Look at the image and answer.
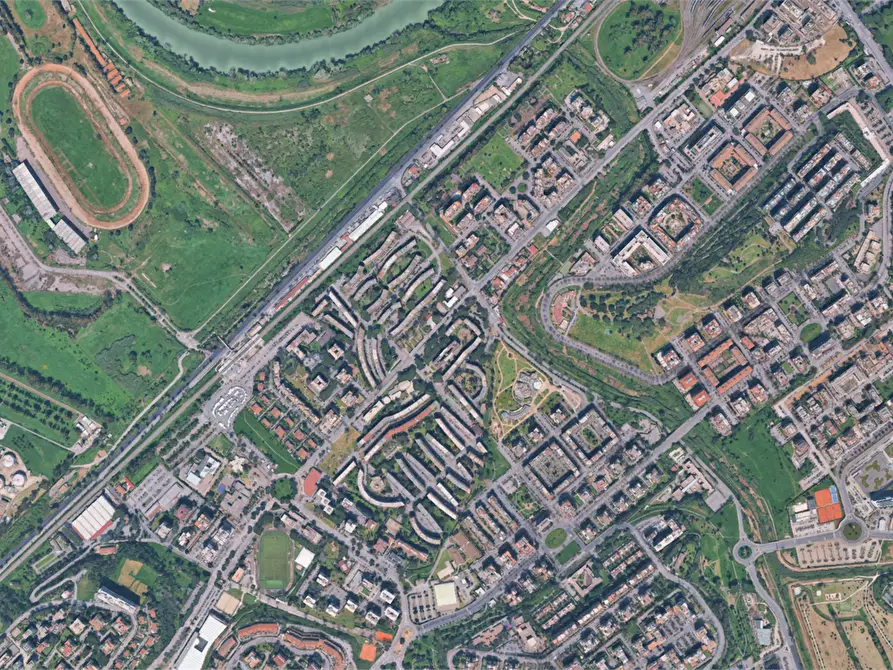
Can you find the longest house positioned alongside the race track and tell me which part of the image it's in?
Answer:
top left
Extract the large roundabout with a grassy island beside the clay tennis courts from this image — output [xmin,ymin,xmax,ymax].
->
[836,516,868,547]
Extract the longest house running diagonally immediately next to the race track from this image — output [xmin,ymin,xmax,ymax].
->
[72,18,106,66]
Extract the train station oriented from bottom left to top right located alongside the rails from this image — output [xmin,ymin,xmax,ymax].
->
[215,334,262,380]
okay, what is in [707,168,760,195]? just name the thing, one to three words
house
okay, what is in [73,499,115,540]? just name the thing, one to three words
shed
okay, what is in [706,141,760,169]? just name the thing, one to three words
house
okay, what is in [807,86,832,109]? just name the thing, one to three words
building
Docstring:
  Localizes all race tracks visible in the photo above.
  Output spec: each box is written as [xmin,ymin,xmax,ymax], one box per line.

[11,64,148,229]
